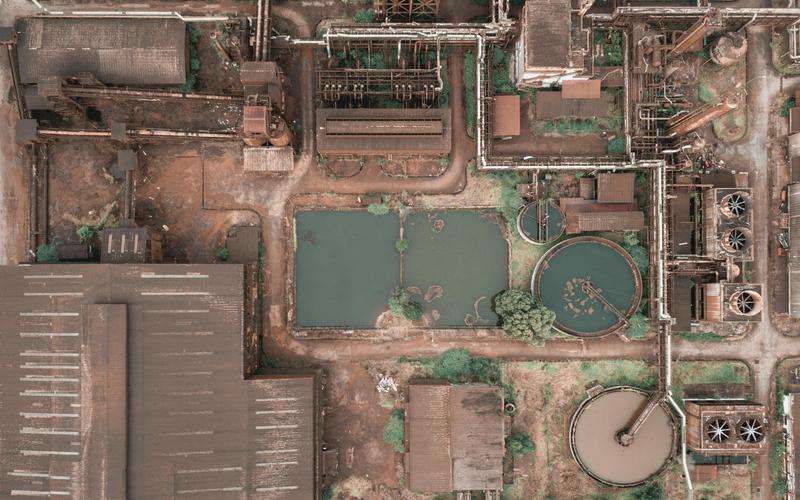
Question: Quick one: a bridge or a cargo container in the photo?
bridge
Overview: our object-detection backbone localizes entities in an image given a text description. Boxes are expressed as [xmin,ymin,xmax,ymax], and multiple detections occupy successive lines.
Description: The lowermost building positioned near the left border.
[0,264,316,500]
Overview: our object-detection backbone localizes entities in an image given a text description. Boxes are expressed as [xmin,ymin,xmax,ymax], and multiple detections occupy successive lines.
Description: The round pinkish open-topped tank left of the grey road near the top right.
[695,30,747,73]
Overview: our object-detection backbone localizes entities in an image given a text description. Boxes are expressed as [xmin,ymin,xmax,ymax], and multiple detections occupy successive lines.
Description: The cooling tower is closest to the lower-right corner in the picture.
[681,405,772,452]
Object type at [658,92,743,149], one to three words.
chimney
